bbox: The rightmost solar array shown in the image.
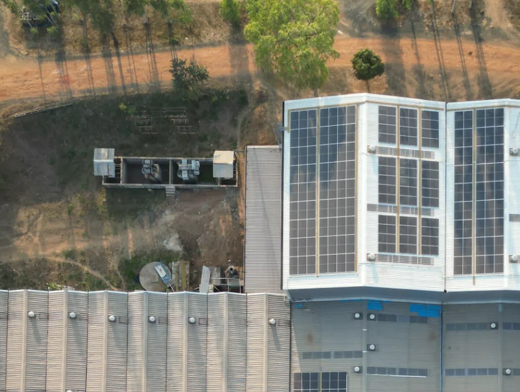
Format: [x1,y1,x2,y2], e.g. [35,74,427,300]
[454,107,503,275]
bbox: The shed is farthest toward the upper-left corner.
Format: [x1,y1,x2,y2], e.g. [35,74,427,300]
[93,151,121,183]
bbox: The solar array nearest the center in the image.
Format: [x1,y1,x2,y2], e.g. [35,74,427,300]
[290,104,355,275]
